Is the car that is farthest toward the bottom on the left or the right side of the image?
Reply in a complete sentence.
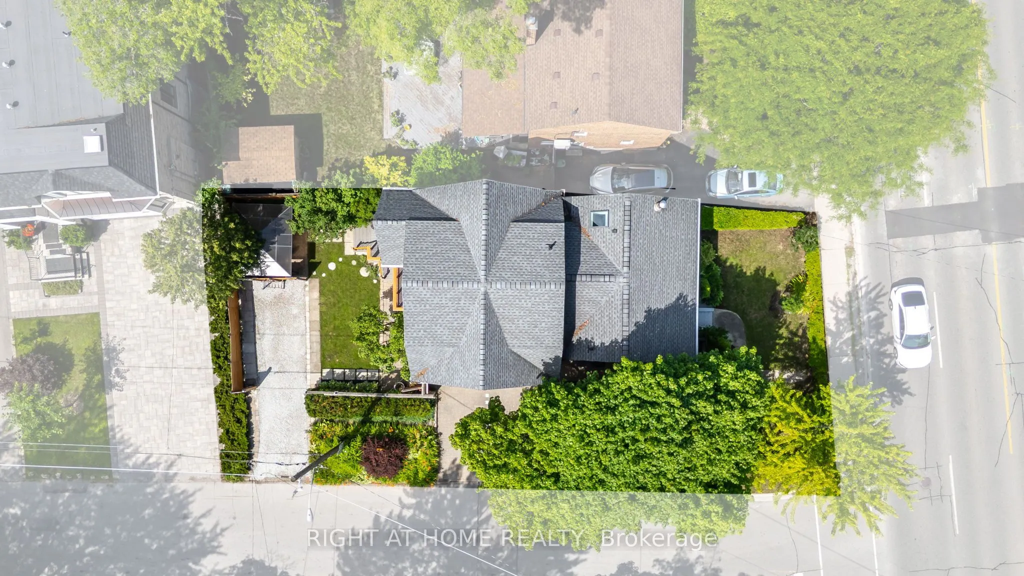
The car that is farthest toward the bottom sits on the right side.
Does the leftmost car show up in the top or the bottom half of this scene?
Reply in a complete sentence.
It is in the top half that the leftmost car appears.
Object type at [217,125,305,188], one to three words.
shed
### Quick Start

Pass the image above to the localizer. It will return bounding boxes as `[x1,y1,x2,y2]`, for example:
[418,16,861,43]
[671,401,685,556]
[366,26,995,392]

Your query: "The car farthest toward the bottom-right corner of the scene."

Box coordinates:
[888,282,938,371]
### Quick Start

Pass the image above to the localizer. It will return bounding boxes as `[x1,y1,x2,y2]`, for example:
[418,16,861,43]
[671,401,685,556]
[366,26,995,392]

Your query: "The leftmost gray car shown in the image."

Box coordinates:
[584,154,677,196]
